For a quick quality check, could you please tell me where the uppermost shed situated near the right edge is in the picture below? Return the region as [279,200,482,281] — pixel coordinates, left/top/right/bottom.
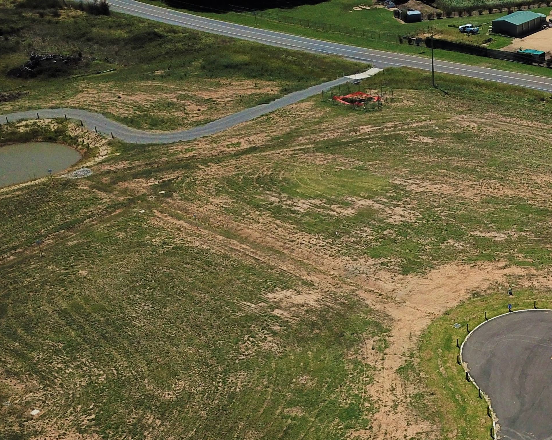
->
[491,9,542,38]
